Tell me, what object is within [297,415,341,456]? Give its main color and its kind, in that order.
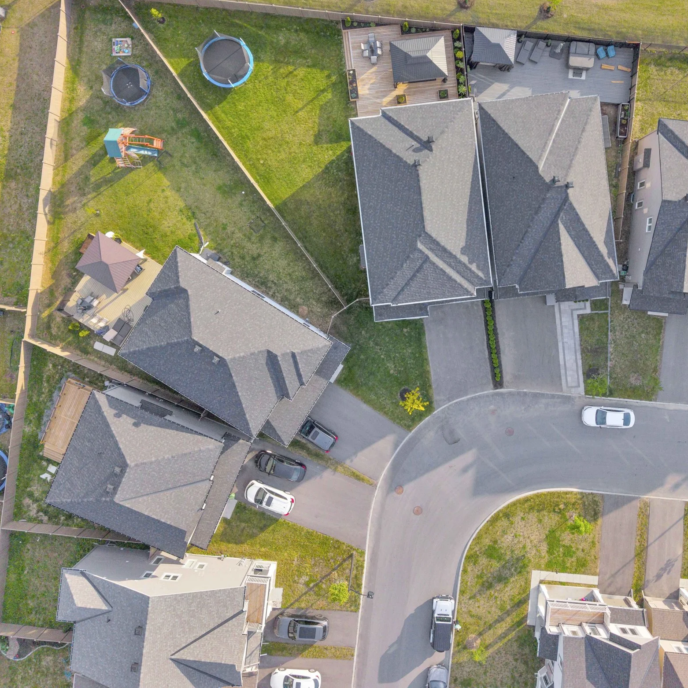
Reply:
gray car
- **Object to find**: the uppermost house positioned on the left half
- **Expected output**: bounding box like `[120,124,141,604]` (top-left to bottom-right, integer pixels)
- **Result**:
[116,242,352,448]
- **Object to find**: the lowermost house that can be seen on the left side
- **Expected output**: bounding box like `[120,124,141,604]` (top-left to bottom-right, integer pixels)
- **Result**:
[55,546,277,688]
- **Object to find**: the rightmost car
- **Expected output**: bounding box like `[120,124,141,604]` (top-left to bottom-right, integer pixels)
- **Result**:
[580,405,635,430]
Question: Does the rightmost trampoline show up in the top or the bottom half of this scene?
top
